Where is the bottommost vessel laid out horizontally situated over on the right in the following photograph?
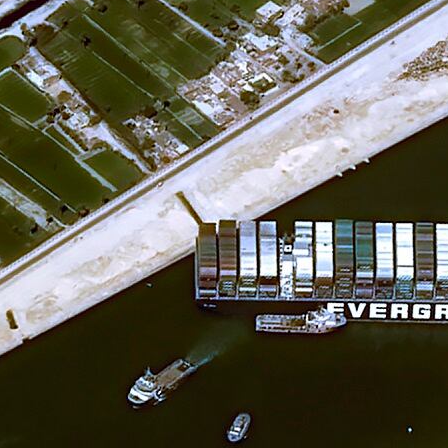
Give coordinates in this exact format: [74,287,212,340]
[256,306,346,331]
